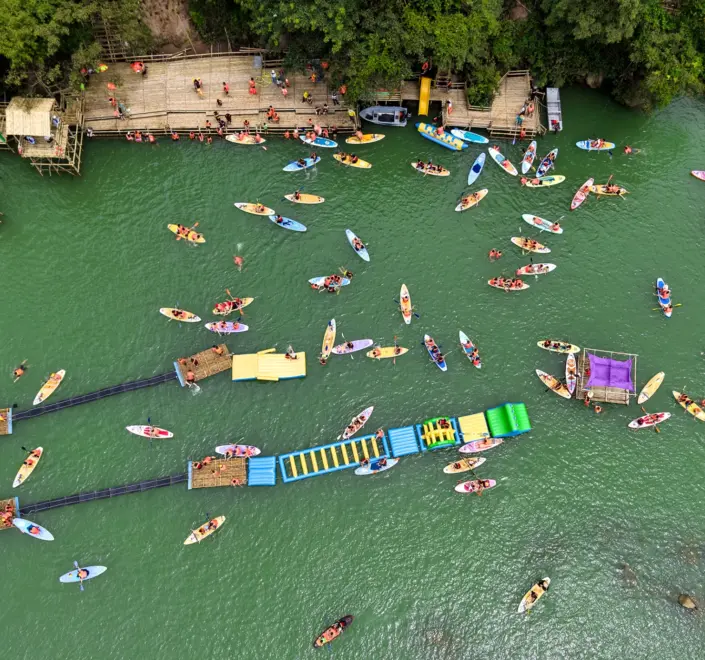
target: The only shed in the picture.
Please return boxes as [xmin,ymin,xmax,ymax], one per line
[2,81,87,180]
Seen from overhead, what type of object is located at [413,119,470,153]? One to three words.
boat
